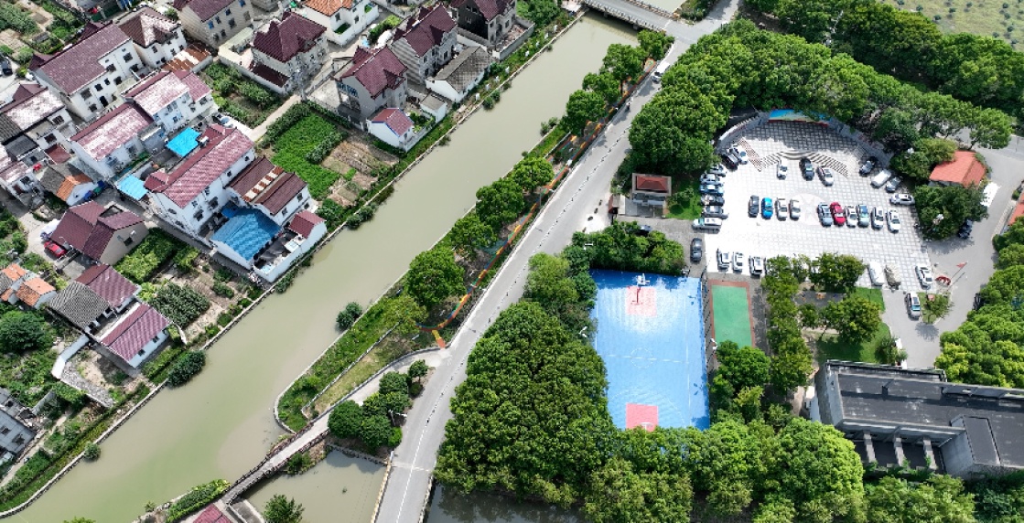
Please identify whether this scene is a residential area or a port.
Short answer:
residential area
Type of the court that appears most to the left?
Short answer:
basketball court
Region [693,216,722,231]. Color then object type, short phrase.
white vehicle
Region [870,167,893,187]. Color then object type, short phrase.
white car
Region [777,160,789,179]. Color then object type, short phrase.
white vehicle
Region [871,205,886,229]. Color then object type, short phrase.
white car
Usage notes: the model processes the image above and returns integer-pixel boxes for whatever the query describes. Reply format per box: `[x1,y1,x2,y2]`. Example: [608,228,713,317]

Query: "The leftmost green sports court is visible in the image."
[709,279,757,388]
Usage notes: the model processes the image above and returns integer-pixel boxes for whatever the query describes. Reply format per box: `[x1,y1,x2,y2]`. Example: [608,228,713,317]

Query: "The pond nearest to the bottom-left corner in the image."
[256,450,387,523]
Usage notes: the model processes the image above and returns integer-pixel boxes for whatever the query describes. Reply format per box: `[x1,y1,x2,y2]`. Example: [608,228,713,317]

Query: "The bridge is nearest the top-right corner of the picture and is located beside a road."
[582,0,685,34]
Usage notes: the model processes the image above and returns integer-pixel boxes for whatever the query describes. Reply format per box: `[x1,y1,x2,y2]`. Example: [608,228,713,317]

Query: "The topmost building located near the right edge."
[927,152,984,199]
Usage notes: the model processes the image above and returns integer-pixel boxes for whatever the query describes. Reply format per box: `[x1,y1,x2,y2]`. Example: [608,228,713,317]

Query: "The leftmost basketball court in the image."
[580,265,717,465]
